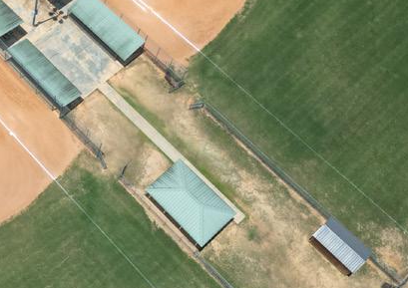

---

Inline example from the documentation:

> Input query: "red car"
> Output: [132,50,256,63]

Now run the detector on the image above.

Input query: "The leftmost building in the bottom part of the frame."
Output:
[143,158,237,249]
